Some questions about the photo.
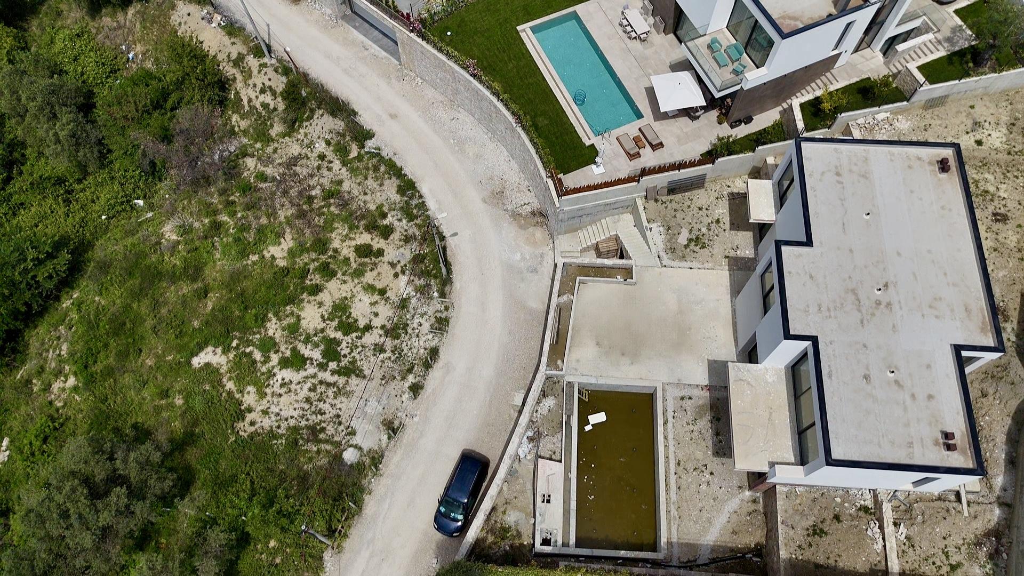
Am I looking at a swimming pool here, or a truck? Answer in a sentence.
The image shows a swimming pool.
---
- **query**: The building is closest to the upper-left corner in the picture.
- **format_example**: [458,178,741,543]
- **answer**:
[339,0,401,66]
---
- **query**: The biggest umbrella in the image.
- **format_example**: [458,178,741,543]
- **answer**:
[651,71,706,121]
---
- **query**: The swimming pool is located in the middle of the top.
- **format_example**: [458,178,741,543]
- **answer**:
[509,3,652,150]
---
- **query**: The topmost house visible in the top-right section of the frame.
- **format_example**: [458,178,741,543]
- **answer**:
[640,0,943,126]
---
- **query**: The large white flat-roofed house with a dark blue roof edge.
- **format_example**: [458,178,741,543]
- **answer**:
[727,136,1007,492]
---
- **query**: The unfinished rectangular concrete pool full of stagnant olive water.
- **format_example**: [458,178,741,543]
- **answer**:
[570,381,667,558]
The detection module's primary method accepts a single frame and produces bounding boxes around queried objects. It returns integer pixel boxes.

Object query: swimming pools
[570,381,667,558]
[509,3,652,150]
